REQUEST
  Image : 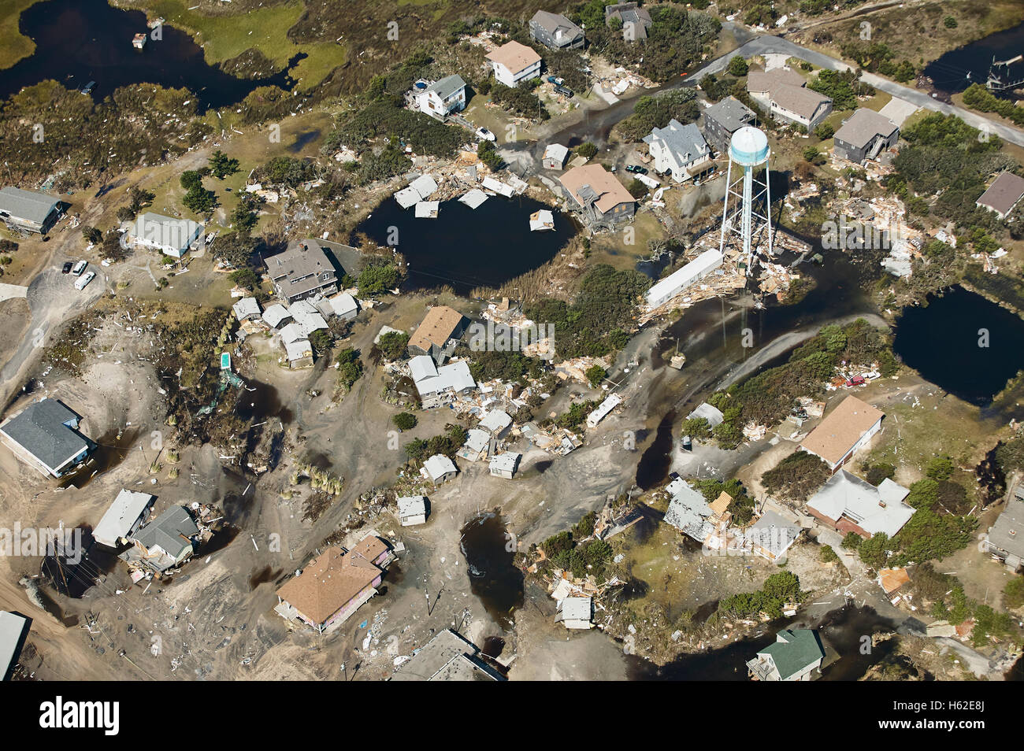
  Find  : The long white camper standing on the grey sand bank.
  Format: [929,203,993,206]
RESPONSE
[586,387,626,428]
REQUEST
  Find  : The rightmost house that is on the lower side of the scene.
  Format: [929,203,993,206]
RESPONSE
[983,486,1024,568]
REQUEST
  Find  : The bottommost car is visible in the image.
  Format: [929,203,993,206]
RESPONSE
[661,467,684,484]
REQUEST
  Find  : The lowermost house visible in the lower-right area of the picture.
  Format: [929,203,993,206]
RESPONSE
[746,629,823,698]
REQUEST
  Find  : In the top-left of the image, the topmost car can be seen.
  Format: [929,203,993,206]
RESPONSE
[80,76,98,94]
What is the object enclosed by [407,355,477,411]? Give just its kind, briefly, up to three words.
house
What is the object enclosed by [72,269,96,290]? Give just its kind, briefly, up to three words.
vehicle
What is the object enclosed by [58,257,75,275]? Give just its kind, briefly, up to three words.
car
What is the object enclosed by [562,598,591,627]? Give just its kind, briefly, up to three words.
building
